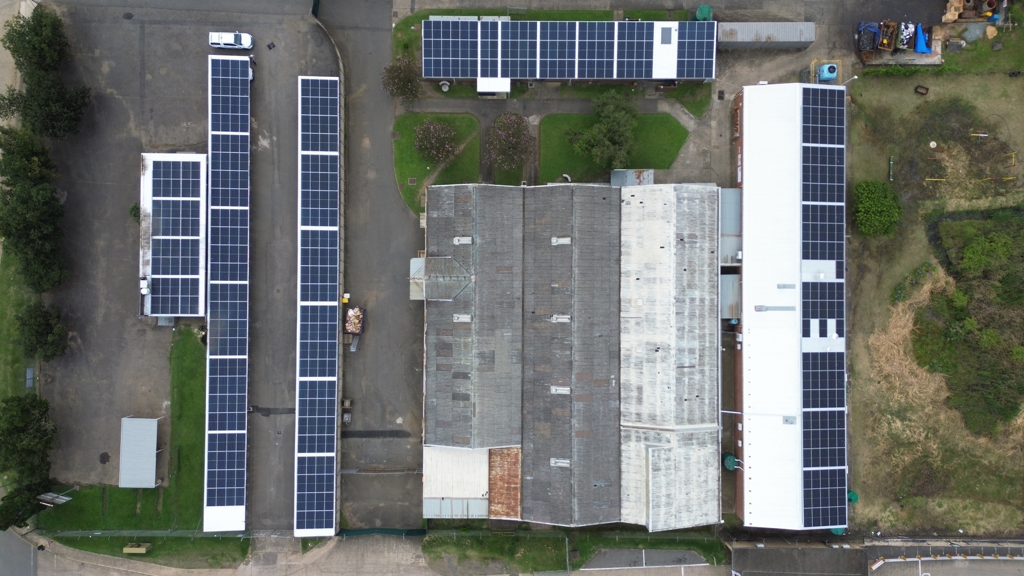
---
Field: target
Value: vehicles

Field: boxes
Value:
[249,68,258,83]
[207,30,252,50]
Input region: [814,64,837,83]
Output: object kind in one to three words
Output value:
cooling tower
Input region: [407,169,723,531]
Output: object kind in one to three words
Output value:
building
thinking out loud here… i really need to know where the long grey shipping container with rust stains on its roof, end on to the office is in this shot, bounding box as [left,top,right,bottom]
[716,22,815,49]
